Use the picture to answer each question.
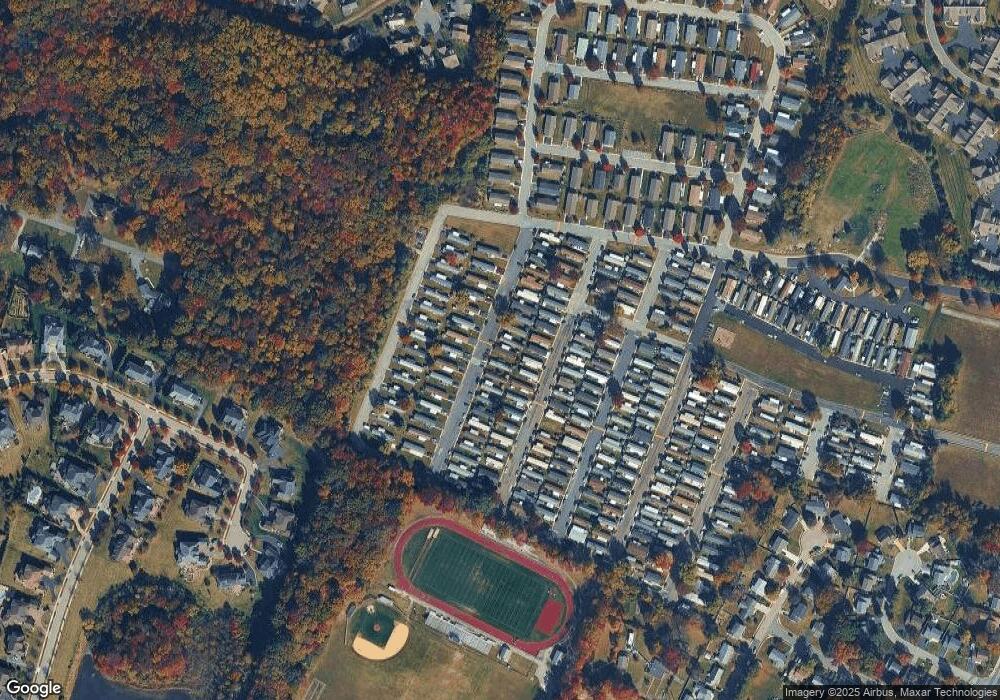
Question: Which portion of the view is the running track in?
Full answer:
The running track appears toward the bottom of the photo.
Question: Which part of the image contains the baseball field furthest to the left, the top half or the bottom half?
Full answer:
You can find the baseball field furthest to the left in the bottom half.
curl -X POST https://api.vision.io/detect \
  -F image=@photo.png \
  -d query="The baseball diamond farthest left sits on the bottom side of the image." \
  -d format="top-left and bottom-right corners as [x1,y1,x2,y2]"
[348,598,410,661]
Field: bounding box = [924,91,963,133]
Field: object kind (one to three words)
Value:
building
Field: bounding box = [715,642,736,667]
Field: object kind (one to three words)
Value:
house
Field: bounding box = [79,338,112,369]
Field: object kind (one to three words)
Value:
house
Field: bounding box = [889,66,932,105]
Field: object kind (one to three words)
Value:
building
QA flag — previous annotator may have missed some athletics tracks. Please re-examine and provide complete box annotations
[395,516,573,656]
